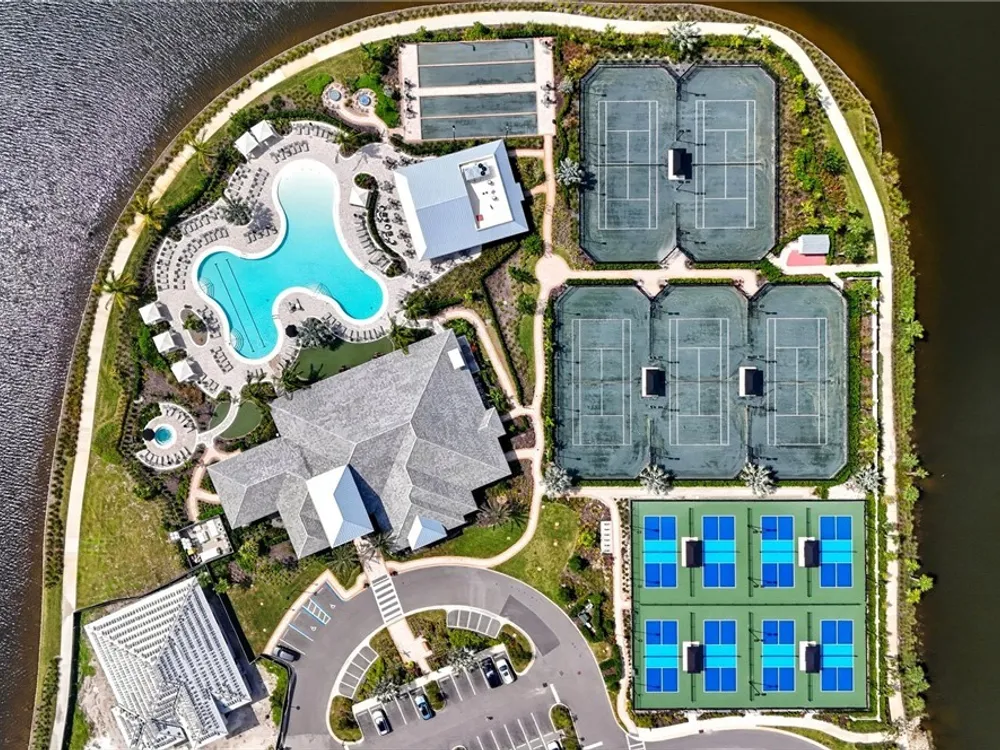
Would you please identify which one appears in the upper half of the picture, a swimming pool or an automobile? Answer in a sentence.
You can see a swimming pool in the upper half of the picture.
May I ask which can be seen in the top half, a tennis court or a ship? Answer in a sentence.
The feature located in the top half is a tennis court.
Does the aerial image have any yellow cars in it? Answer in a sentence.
No, no yellow car can be seen from above.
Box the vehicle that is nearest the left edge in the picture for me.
[273,646,299,664]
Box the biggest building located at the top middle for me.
[394,140,528,260]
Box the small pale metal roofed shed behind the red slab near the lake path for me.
[798,235,830,254]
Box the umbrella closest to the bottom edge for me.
[143,428,156,440]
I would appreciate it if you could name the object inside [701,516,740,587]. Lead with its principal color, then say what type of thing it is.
blue sports court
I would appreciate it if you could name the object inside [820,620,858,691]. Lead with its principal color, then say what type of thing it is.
blue sports court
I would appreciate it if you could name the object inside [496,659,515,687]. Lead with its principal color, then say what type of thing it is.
white car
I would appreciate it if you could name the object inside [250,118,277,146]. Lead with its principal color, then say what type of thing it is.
white tent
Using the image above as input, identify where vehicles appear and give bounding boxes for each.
[496,659,515,687]
[414,696,433,722]
[373,710,391,737]
[273,646,299,664]
[480,659,501,688]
